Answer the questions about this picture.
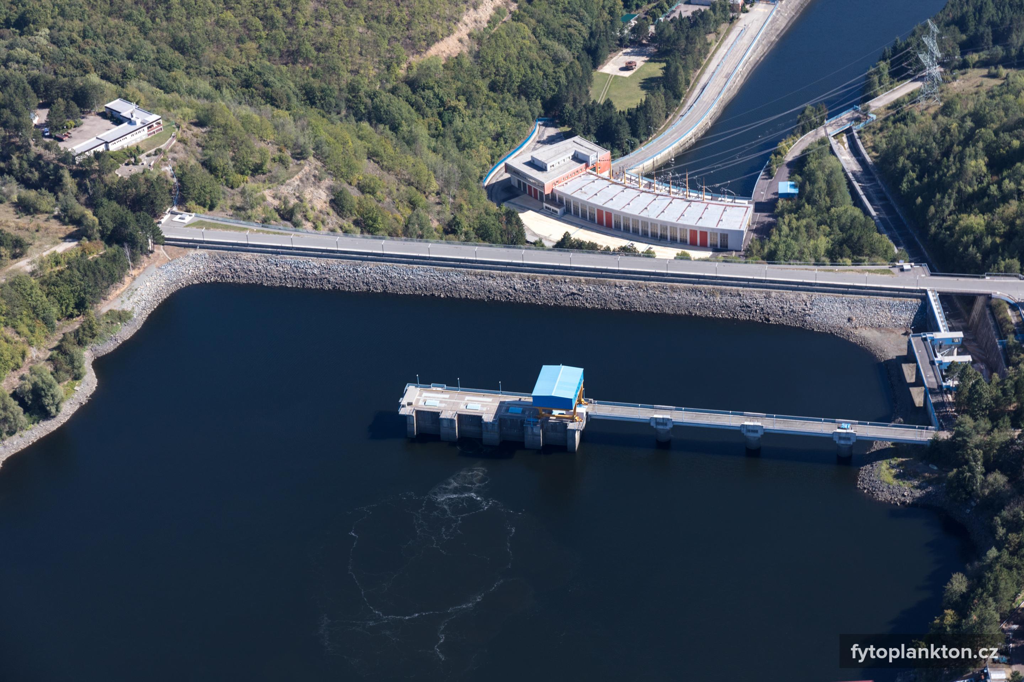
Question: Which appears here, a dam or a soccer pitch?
dam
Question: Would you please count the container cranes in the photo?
1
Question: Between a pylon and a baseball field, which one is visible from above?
pylon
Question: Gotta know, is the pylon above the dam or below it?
above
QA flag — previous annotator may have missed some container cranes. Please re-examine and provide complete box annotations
[532,361,589,422]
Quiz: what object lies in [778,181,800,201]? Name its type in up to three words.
shed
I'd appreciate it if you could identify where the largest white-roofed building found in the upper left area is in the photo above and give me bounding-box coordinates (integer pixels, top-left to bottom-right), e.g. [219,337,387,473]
[68,98,163,159]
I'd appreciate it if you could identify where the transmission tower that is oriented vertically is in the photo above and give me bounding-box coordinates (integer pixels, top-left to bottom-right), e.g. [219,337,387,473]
[921,19,947,94]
